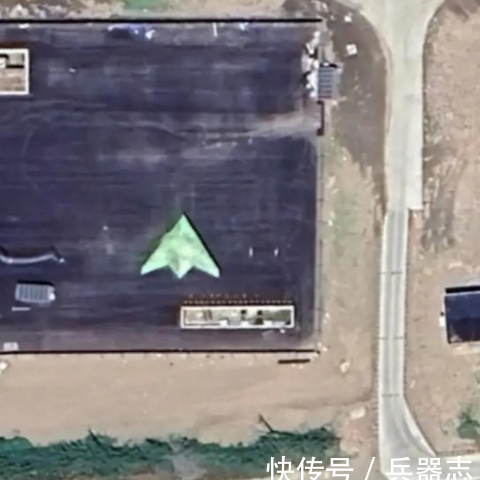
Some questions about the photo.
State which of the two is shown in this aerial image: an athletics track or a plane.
plane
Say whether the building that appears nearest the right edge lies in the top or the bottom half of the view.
bottom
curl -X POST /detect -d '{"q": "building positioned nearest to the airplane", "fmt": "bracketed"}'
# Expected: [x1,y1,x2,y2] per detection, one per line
[181,306,297,330]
